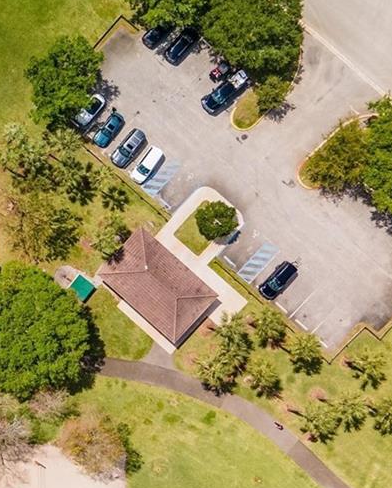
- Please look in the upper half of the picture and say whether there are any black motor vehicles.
Yes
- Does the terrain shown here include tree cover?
Yes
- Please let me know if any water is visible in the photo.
No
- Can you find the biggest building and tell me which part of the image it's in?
center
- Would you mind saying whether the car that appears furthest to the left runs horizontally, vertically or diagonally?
diagonally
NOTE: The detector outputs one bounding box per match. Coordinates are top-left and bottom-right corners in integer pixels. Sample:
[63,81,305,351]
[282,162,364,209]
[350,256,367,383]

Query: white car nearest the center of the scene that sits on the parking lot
[129,145,166,185]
